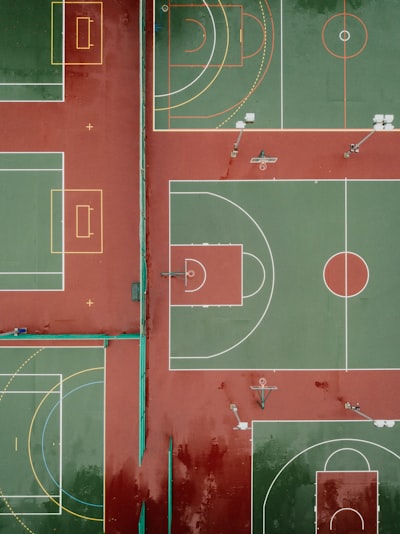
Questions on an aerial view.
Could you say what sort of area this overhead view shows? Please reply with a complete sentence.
The area seen from above is a sports ground.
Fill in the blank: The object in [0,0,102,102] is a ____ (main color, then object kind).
green tennis court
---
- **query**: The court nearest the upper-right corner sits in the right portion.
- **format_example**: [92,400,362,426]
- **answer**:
[153,0,400,131]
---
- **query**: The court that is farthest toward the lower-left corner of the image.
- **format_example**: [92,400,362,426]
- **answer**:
[0,347,105,534]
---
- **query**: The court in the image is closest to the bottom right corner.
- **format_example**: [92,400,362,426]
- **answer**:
[248,420,400,534]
